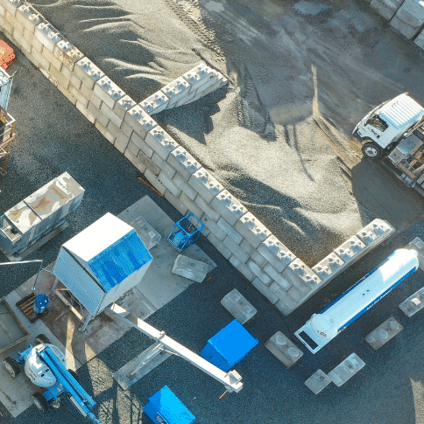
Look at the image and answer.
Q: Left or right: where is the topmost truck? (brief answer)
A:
right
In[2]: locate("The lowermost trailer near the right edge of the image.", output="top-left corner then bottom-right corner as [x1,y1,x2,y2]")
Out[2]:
[292,246,423,358]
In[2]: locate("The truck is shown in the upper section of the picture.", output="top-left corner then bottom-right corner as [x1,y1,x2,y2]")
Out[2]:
[350,82,424,166]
